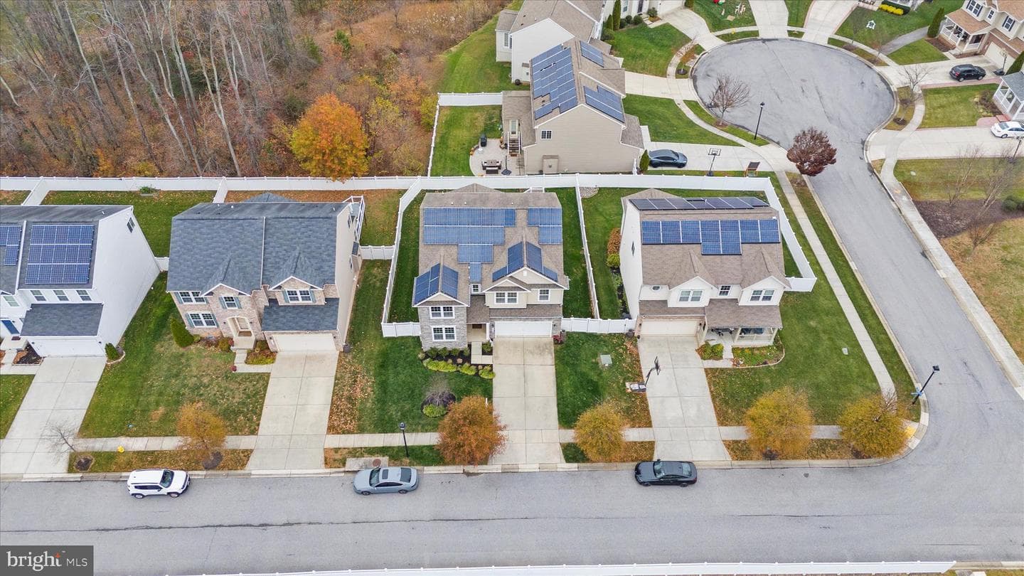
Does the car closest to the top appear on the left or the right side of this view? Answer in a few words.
right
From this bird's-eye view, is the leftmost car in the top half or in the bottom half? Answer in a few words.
bottom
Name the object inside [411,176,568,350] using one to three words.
house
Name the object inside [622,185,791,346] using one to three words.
house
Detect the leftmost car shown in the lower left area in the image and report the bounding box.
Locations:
[125,468,187,498]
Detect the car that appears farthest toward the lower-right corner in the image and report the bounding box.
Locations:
[636,457,699,486]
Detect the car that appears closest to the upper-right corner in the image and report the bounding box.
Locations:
[950,57,990,79]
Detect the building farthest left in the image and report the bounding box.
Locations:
[0,206,156,355]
